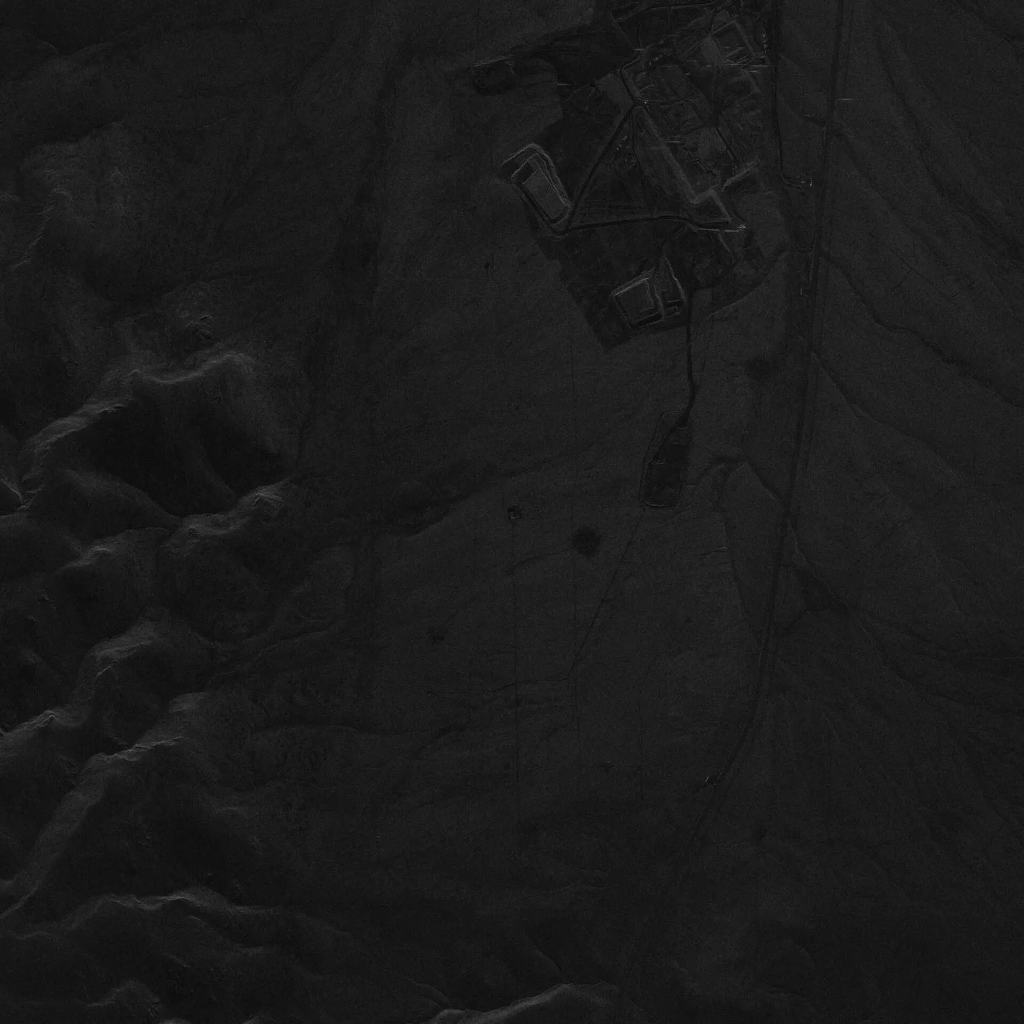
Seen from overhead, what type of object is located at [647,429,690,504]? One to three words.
pond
